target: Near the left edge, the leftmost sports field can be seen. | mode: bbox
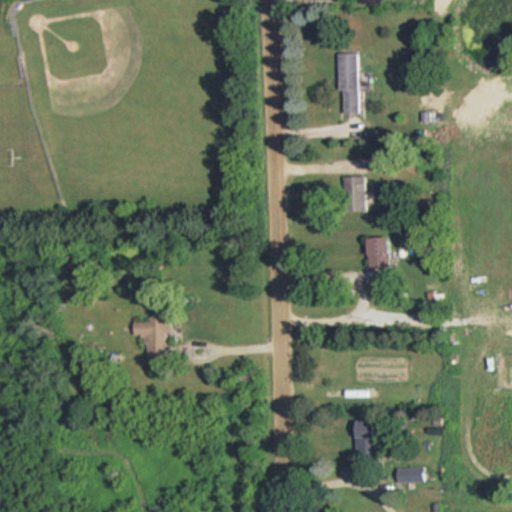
[0,36,60,216]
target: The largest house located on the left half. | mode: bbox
[131,318,171,353]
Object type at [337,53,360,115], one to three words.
house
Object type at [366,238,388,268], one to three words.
house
